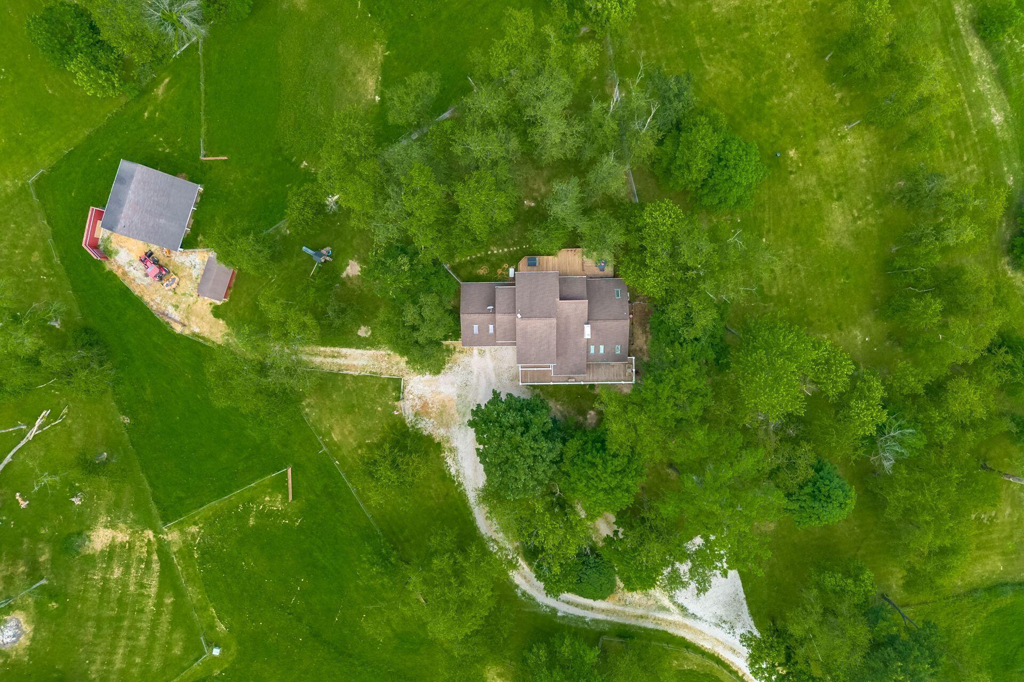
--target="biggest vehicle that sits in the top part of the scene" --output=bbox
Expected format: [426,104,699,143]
[143,248,171,279]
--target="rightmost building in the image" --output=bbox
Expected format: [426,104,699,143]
[459,271,632,376]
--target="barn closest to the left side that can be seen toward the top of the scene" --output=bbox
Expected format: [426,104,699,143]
[100,159,205,252]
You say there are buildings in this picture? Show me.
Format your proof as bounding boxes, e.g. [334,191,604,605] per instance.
[197,255,242,302]
[100,159,205,252]
[459,271,632,376]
